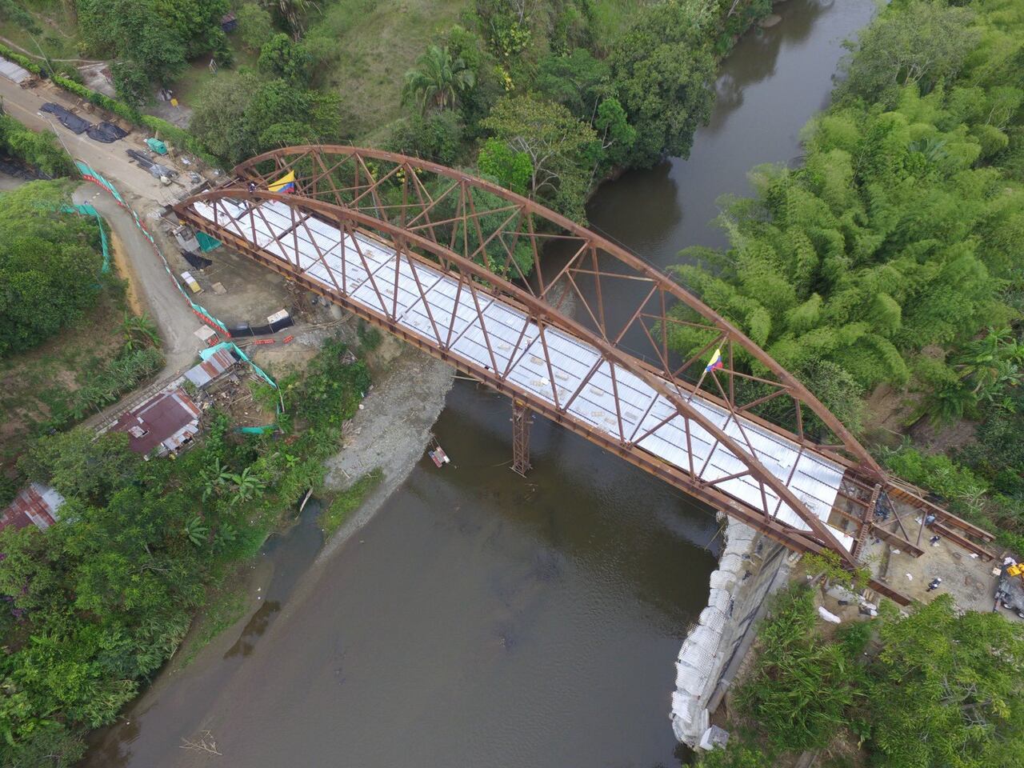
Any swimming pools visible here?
No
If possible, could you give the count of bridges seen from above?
1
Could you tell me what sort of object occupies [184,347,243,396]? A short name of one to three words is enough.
shed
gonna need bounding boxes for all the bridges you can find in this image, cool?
[171,133,889,581]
